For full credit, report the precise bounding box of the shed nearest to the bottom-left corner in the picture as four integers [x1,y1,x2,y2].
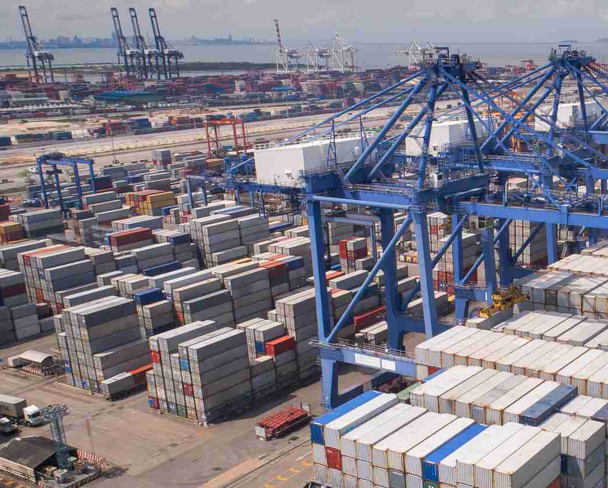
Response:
[0,433,76,485]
